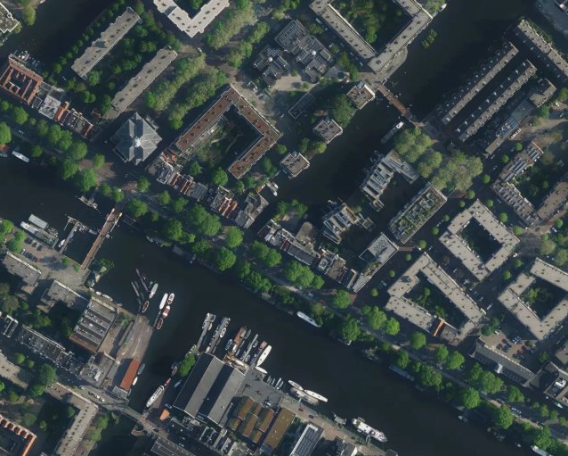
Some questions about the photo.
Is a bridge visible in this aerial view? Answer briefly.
Yes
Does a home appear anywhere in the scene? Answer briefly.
Yes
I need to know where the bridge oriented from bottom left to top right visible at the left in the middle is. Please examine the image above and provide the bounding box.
[80,208,123,270]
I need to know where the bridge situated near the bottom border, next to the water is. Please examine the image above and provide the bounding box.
[100,401,155,434]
